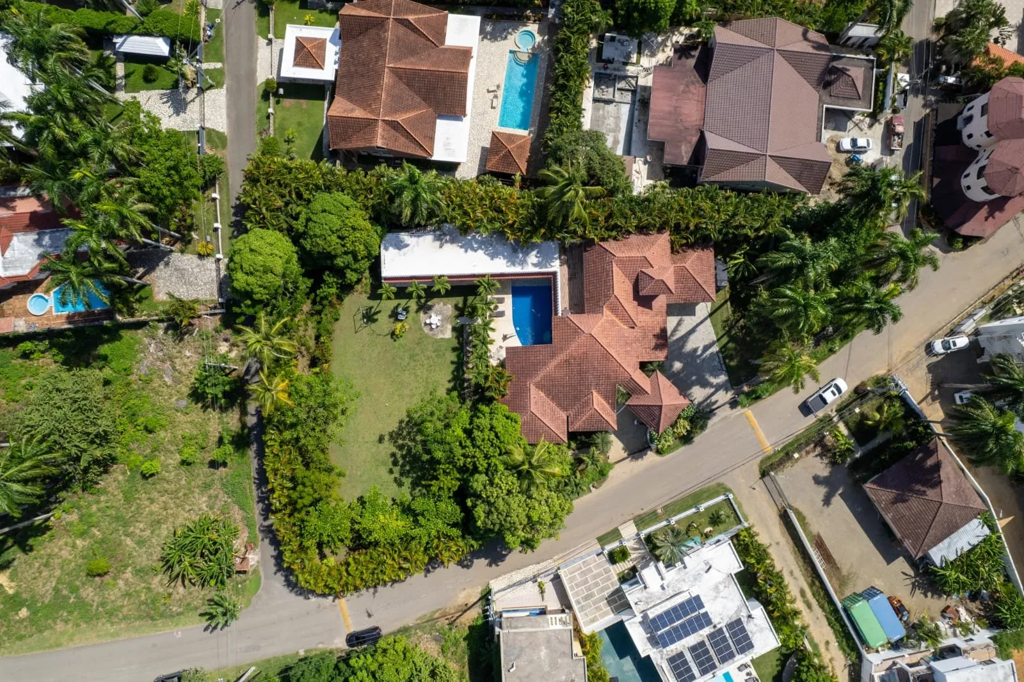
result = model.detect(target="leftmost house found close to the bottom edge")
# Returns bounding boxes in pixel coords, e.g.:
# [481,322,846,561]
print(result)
[502,605,586,682]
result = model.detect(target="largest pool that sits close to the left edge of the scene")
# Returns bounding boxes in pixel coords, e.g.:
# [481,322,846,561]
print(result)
[49,276,114,315]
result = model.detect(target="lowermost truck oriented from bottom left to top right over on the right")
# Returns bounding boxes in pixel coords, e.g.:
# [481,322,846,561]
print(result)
[801,376,847,416]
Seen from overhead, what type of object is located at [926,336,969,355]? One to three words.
car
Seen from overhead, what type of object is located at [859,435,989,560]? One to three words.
house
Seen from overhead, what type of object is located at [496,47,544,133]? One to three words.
swimming pool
